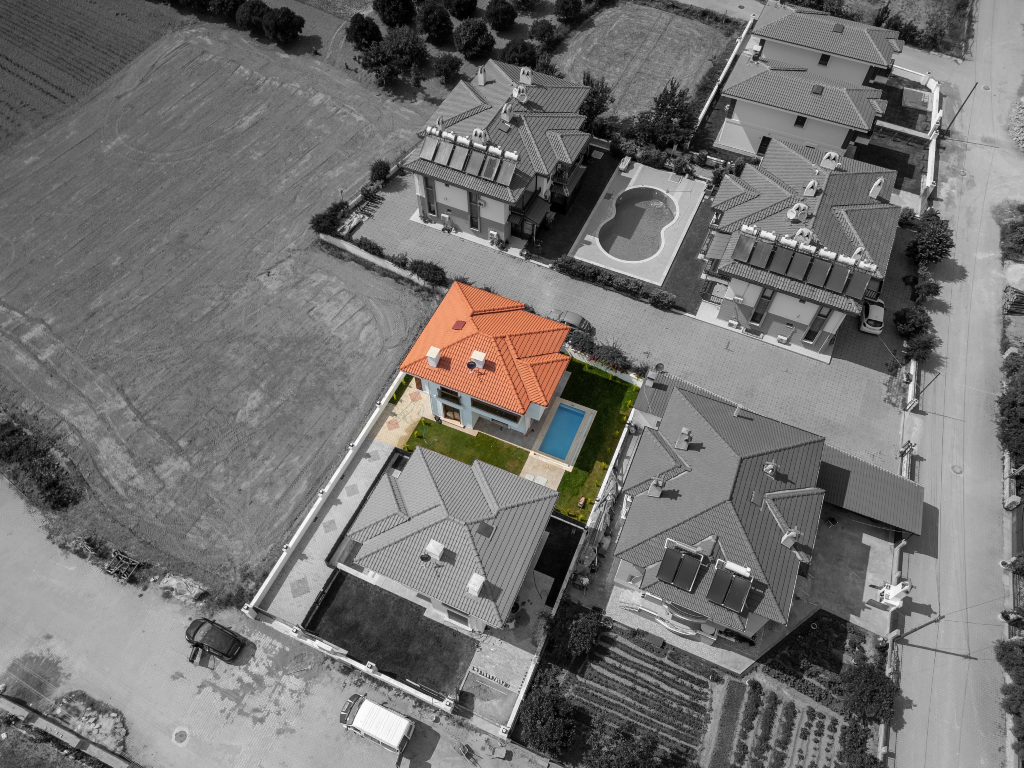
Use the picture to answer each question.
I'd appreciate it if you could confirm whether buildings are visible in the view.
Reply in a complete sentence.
Yes, there's a building down there.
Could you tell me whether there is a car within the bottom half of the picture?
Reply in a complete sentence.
Yes, a car is visible within the bottom half of the picture.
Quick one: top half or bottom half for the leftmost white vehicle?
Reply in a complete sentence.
It is in the bottom half that the leftmost white vehicle appears.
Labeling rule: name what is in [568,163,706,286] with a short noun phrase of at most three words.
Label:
swimming pool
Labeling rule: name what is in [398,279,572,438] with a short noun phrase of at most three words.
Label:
house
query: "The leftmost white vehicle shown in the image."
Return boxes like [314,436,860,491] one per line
[341,694,422,757]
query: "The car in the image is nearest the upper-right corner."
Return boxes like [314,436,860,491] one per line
[859,298,889,337]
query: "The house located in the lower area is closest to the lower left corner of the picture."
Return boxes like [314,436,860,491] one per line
[345,444,561,633]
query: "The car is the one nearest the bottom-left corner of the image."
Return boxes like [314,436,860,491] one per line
[182,618,248,670]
